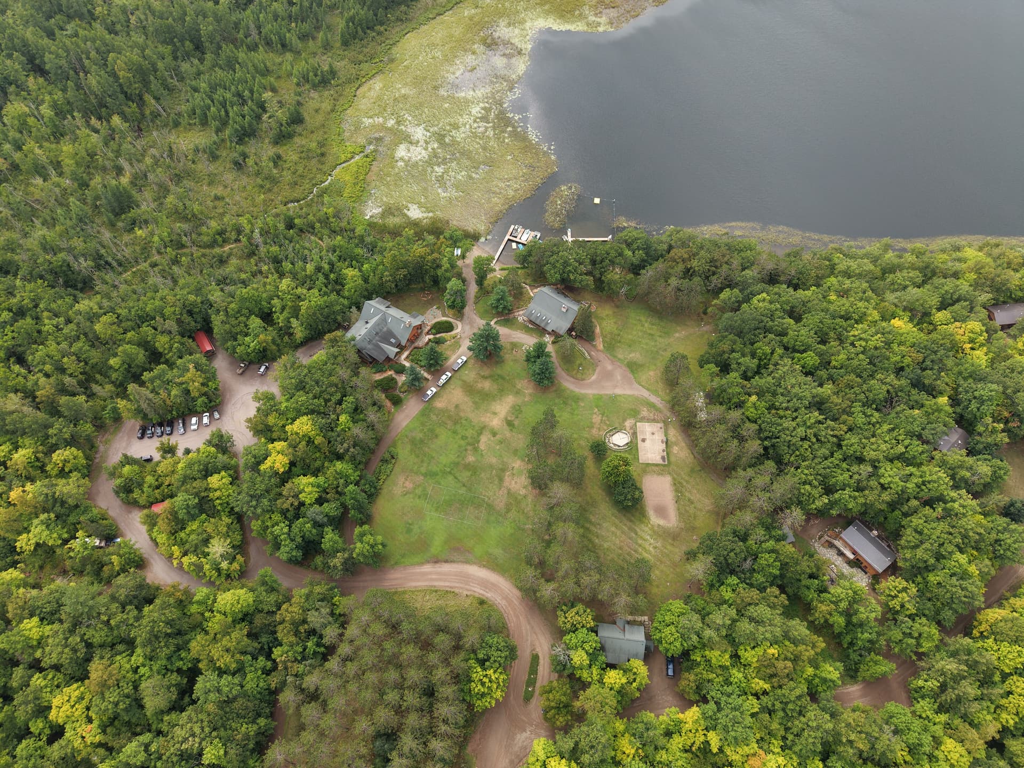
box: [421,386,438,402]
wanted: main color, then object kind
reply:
white vehicle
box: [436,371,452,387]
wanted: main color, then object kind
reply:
white vehicle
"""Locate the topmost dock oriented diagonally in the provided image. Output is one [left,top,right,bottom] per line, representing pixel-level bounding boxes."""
[491,225,534,266]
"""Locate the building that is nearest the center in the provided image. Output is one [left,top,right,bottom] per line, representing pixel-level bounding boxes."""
[523,286,584,339]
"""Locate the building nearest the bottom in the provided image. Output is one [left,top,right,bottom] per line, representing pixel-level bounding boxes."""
[596,617,653,667]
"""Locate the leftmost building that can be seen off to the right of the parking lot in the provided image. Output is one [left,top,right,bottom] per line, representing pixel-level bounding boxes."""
[344,297,432,367]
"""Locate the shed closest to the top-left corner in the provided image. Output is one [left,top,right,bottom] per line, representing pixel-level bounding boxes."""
[195,331,218,360]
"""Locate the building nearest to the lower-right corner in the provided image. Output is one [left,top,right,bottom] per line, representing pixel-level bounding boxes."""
[818,521,896,575]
